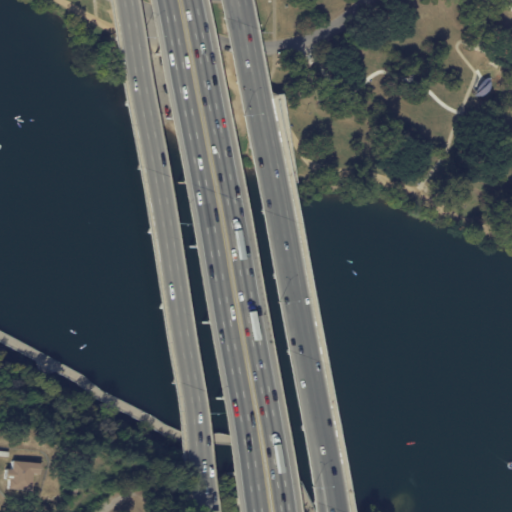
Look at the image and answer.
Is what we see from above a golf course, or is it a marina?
marina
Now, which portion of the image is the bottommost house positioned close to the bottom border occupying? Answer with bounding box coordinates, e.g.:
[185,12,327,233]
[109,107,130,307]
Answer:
[2,461,42,490]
